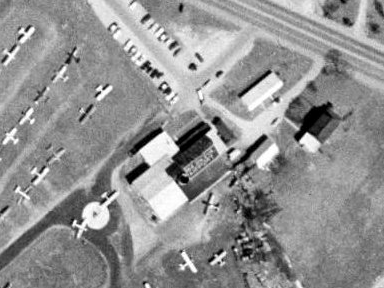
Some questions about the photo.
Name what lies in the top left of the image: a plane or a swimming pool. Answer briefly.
plane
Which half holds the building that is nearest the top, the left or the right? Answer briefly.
right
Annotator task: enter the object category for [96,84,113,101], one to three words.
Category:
airplane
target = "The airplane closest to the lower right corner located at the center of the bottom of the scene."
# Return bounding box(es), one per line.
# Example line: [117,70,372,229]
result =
[210,252,227,268]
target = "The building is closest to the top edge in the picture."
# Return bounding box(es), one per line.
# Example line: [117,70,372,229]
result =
[242,73,283,110]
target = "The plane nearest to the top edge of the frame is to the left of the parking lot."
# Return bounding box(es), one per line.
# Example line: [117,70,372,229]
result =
[18,26,35,43]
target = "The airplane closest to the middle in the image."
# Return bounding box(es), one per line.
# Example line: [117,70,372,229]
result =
[204,195,218,214]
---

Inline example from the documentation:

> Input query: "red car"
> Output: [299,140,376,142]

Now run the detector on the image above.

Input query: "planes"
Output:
[18,109,35,125]
[80,107,96,123]
[96,84,113,101]
[18,26,35,43]
[34,86,50,103]
[5,45,21,62]
[179,253,197,272]
[48,147,65,164]
[204,195,218,214]
[65,47,80,65]
[15,186,32,205]
[210,252,227,268]
[0,207,11,221]
[32,168,49,185]
[103,190,120,207]
[52,66,69,83]
[73,219,88,238]
[3,129,18,145]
